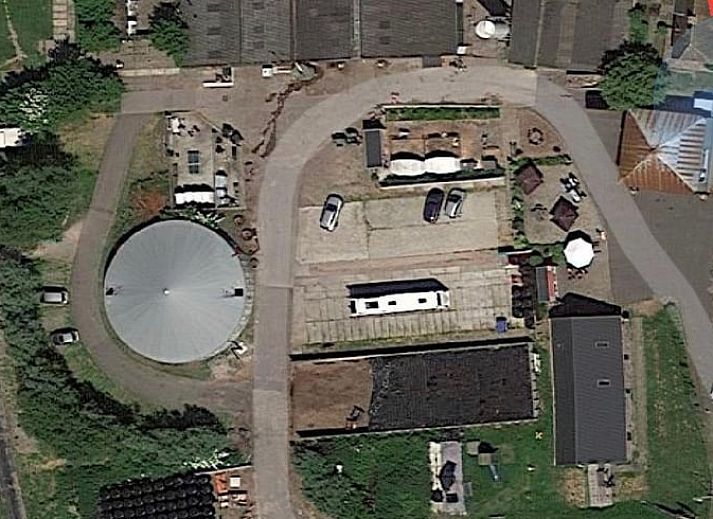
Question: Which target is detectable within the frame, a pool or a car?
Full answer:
Visible in the photo is a car.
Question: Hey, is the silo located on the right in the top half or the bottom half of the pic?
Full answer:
Seen from above, the silo located on the right lies in the top half of the view.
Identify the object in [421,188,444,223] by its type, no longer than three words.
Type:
car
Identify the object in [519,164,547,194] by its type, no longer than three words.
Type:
gazebo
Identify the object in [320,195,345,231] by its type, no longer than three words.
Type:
car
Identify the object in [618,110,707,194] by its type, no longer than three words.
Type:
building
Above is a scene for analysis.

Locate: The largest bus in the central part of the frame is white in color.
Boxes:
[352,289,450,320]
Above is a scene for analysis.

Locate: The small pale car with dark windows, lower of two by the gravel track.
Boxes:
[51,329,80,347]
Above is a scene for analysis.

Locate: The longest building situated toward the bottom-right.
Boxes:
[549,316,632,467]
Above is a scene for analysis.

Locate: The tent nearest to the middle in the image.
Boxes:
[391,160,430,174]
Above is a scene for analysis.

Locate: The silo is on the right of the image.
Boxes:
[476,19,511,39]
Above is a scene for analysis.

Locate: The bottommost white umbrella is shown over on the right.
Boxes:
[565,238,595,268]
